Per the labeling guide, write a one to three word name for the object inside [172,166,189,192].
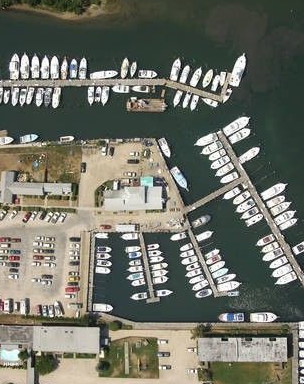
boat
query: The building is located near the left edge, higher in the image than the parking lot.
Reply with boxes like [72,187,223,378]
[0,172,72,204]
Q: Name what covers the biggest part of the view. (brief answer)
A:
water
